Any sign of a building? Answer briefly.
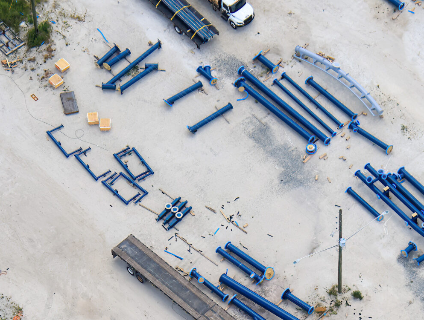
No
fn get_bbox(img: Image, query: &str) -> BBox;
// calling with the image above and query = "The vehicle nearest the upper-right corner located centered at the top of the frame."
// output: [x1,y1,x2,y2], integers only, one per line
[189,0,254,30]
